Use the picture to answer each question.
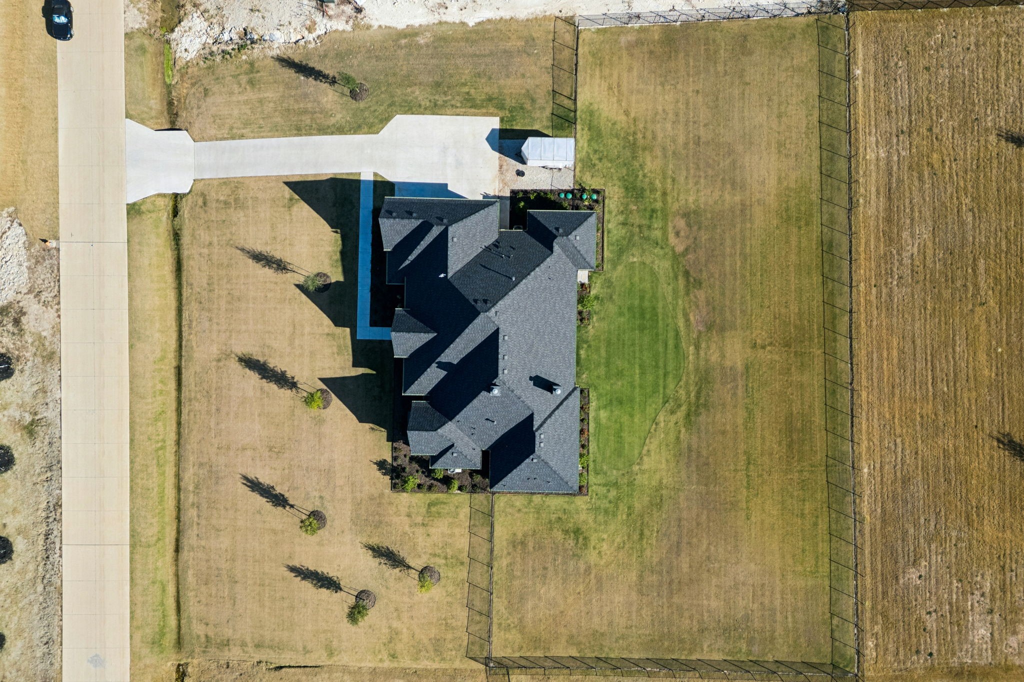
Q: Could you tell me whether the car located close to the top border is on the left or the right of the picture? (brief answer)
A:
left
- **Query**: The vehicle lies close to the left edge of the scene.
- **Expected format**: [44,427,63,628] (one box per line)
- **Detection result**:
[48,0,75,41]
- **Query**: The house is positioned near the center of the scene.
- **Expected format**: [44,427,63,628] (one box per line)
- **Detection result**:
[379,196,597,494]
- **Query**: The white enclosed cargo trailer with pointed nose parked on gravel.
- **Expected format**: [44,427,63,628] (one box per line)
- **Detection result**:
[512,137,574,168]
